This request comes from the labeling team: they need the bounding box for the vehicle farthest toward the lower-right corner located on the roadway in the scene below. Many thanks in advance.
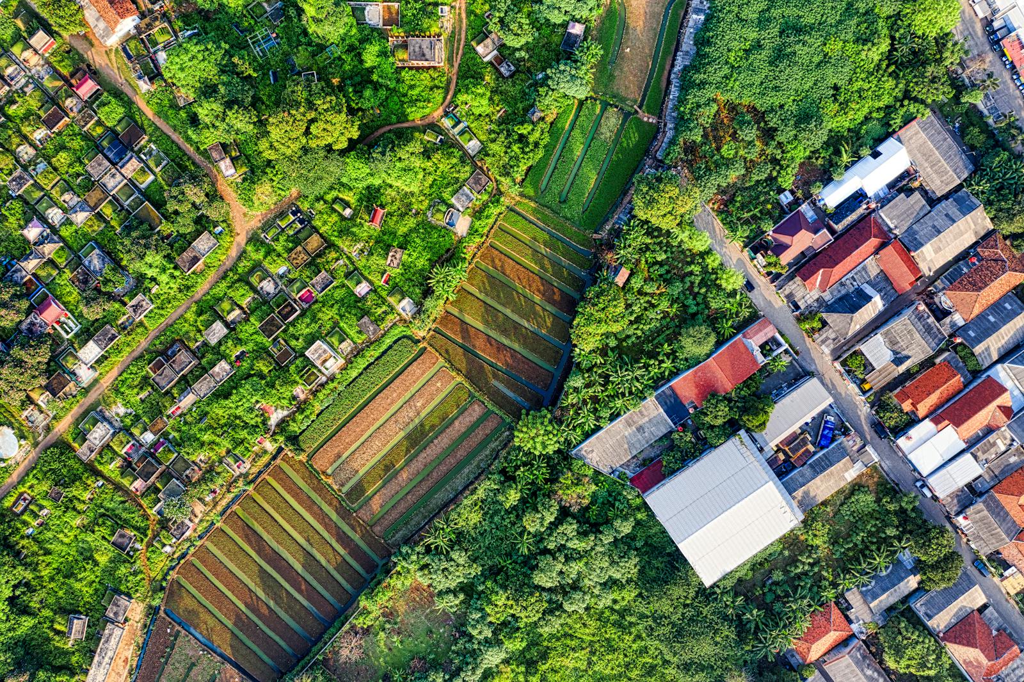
[970,556,992,579]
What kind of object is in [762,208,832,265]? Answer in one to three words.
house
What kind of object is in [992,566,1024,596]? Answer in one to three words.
shed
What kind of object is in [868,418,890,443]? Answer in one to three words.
car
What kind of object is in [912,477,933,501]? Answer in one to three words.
car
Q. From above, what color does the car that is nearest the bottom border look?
blue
